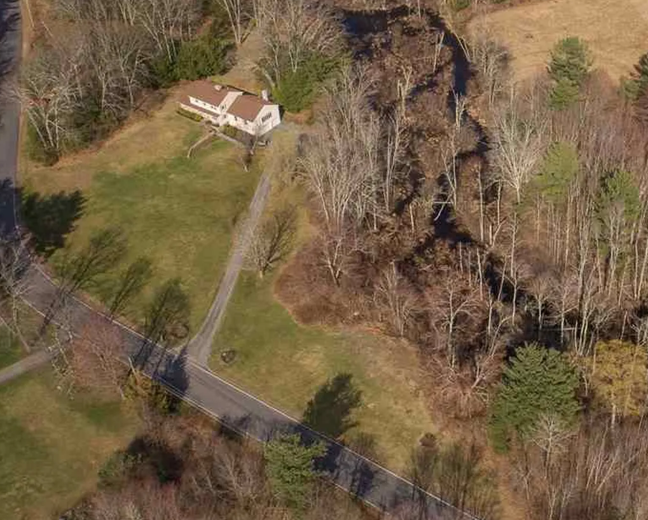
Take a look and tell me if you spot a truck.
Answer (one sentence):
No, I find no truck anywhere in the image.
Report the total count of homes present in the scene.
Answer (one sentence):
There is 1 home in the image.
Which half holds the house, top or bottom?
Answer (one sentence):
The house sits in the top half of the picture.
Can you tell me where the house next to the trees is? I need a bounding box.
[177,79,279,134]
